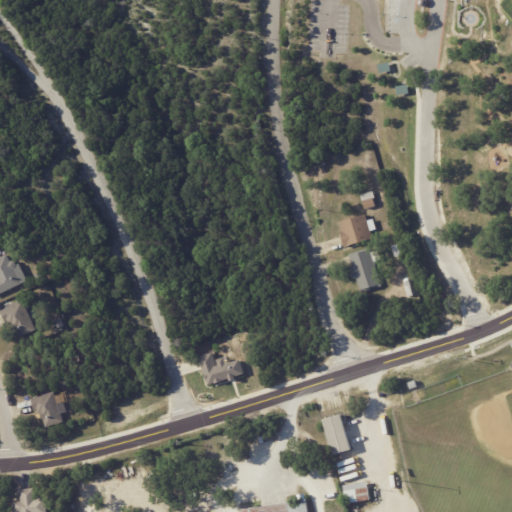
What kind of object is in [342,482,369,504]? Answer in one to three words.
building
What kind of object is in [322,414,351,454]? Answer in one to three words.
building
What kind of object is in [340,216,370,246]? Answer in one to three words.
house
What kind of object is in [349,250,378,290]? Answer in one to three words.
house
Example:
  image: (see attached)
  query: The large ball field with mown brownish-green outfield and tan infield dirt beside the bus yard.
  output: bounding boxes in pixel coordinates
[395,370,512,512]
